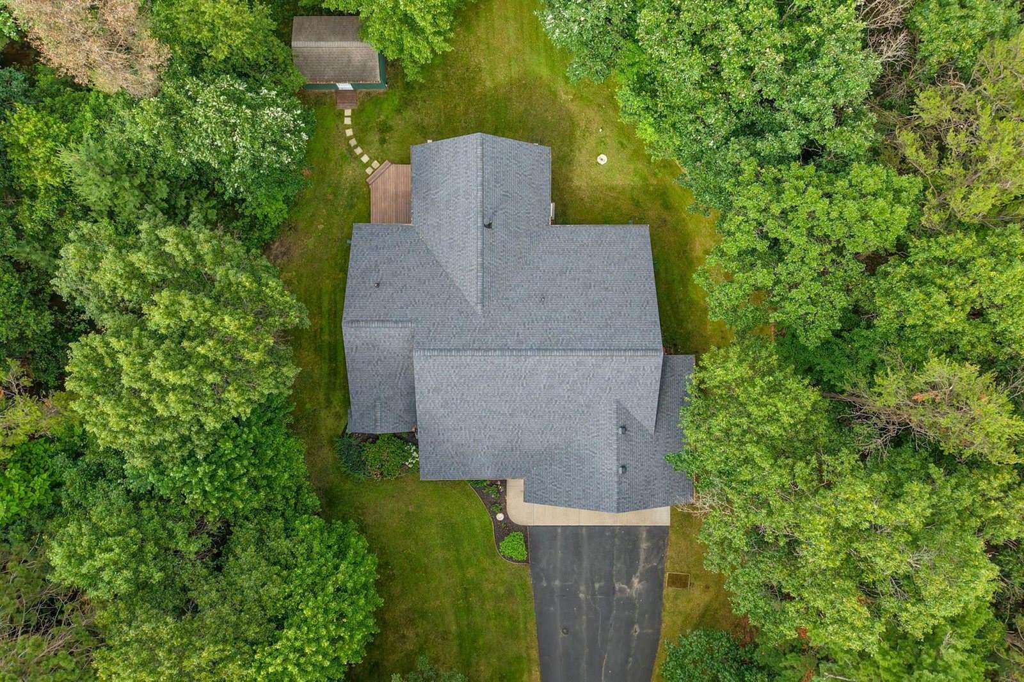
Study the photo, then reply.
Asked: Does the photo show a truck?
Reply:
No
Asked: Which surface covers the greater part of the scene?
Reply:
trees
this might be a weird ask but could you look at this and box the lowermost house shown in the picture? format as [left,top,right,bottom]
[344,133,697,513]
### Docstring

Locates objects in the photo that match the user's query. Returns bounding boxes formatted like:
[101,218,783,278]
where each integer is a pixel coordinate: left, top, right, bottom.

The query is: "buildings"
[290,16,387,89]
[344,133,697,513]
